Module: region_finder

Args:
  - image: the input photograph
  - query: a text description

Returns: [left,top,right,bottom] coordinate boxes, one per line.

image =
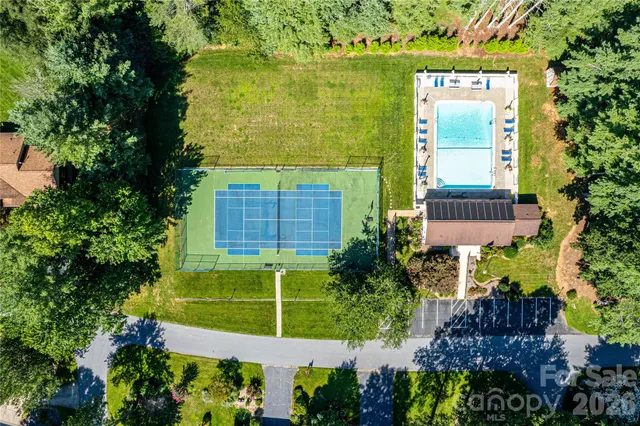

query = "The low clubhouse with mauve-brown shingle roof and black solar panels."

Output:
[425,199,542,247]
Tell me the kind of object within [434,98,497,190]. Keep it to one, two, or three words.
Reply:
swimming pool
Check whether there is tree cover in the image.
Yes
